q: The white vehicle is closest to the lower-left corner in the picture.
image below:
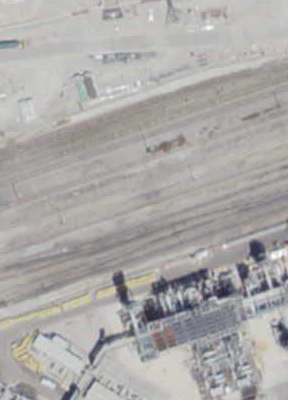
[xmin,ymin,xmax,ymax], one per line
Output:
[40,378,56,390]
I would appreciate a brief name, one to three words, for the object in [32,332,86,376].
building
